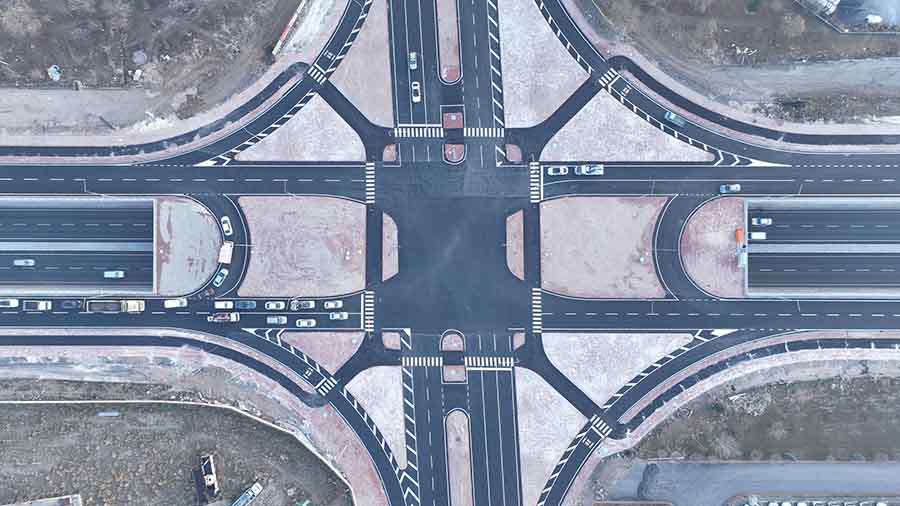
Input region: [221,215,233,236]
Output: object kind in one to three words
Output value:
vehicle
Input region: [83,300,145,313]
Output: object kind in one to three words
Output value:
vehicle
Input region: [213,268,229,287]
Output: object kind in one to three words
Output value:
car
